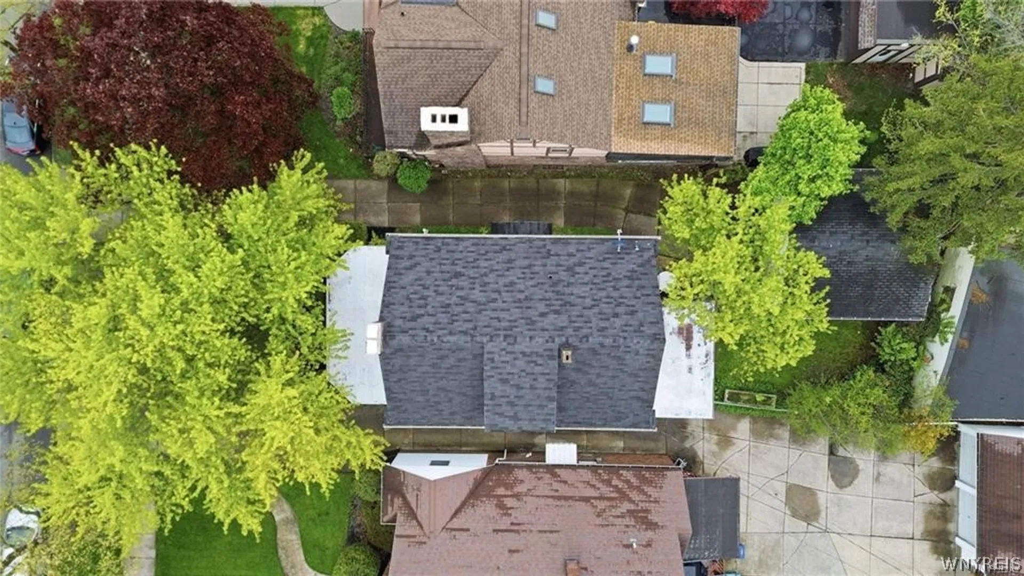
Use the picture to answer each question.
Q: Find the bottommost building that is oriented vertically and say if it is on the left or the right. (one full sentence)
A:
The bottommost building that is oriented vertically appears in the right half of the scene.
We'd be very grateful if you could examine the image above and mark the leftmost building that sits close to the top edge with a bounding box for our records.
[375,0,742,167]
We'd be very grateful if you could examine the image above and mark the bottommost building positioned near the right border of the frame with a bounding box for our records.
[958,419,1024,576]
